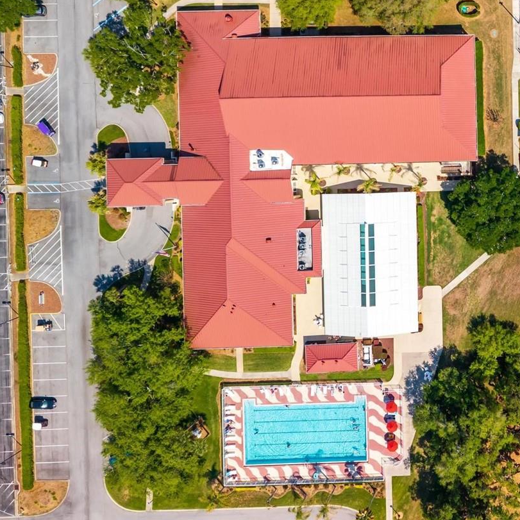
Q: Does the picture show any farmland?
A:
No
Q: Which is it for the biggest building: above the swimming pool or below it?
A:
above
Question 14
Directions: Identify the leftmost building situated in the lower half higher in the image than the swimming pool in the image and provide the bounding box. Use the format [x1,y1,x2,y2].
[305,342,359,374]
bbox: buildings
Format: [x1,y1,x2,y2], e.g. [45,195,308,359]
[106,9,478,350]
[305,342,359,374]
